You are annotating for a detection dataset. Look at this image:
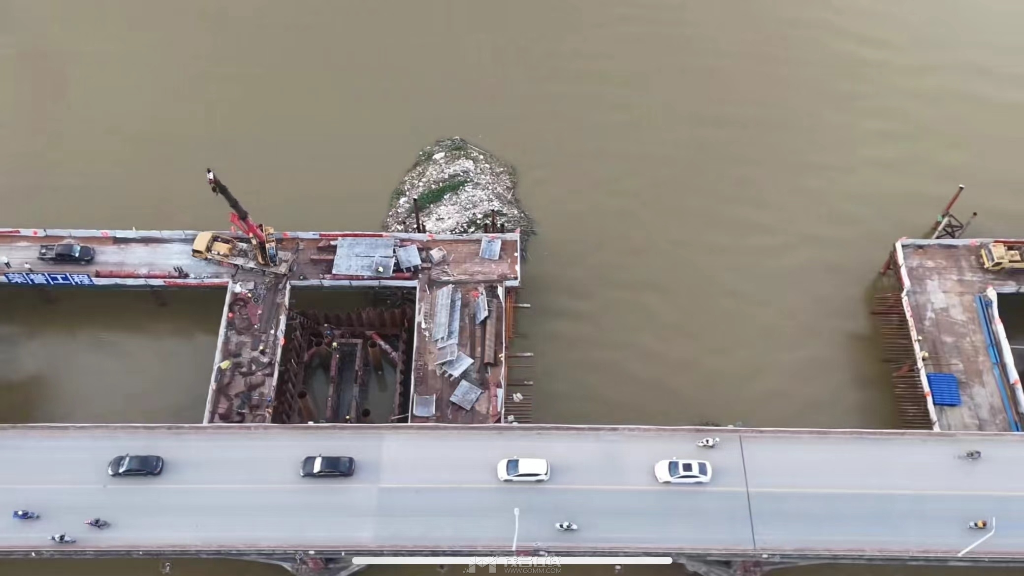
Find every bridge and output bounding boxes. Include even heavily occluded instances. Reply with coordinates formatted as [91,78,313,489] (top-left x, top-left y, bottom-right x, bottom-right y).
[0,422,1024,576]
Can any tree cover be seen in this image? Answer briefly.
No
